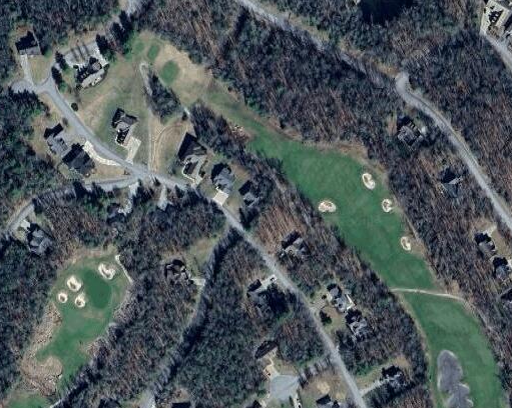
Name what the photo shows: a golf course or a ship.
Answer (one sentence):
This aerial view contains a golf course.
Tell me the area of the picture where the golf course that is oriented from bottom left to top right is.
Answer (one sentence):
You can find the golf course that is oriented from bottom left to top right in the bottom left area of the picture.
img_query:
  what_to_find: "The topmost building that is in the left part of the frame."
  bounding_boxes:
[17,35,40,57]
